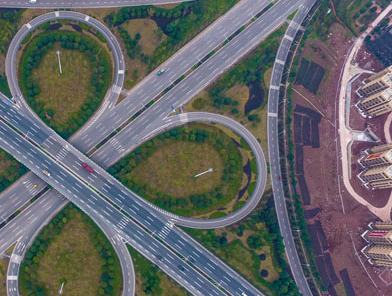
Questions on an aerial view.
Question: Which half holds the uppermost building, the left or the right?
right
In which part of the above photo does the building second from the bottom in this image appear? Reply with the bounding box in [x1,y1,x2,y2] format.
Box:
[357,144,392,190]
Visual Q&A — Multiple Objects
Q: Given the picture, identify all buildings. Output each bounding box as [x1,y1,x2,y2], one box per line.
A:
[360,219,392,268]
[357,144,392,190]
[354,67,392,118]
